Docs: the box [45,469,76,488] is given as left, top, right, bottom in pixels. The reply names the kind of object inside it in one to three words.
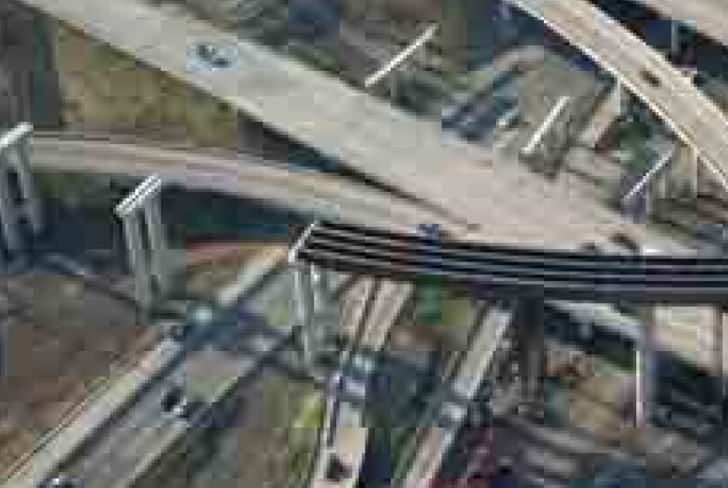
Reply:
car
